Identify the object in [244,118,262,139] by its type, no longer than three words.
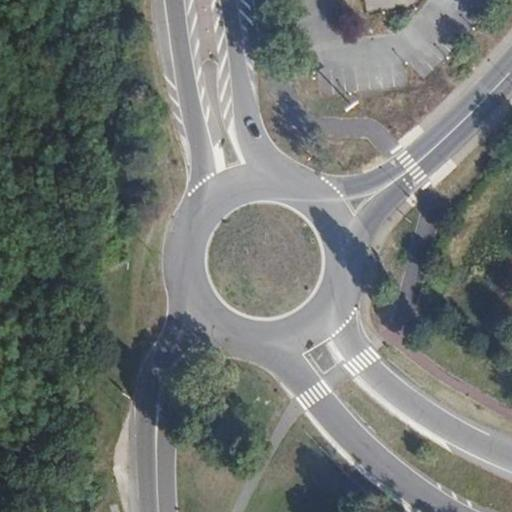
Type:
car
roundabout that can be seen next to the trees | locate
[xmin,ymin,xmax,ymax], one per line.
[164,0,374,382]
